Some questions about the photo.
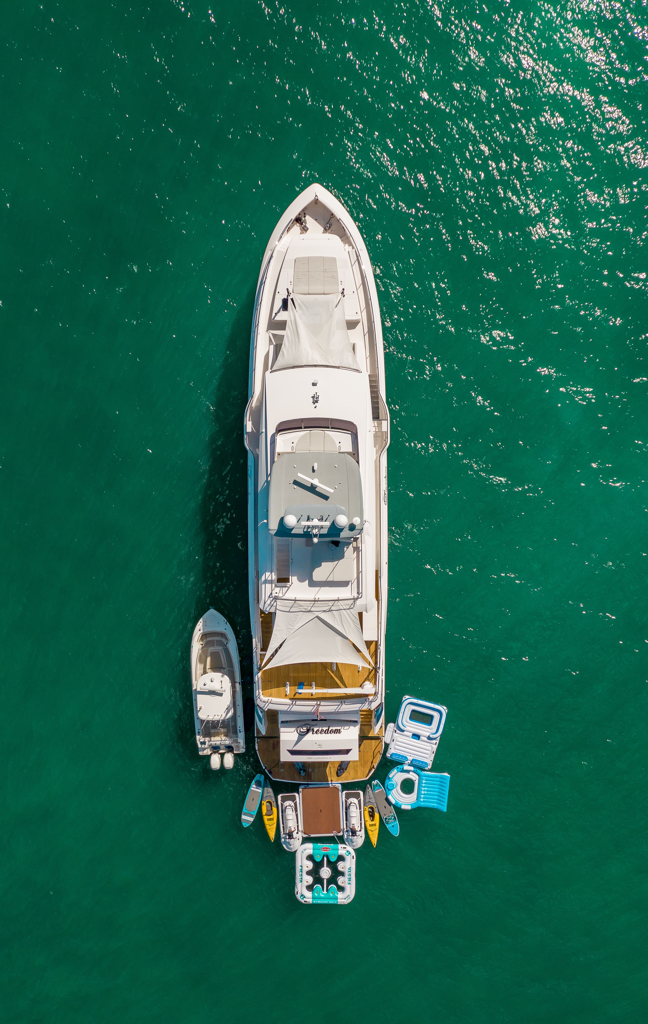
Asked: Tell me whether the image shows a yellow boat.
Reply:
Yes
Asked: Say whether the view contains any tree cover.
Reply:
No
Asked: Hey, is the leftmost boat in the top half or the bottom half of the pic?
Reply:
bottom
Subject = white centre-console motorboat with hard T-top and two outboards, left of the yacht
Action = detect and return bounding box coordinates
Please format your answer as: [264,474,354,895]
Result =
[191,609,246,776]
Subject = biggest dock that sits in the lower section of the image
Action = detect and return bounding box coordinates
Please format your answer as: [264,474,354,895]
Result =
[299,782,343,837]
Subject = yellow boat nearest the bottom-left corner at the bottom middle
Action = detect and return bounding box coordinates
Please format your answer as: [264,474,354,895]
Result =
[261,780,277,844]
